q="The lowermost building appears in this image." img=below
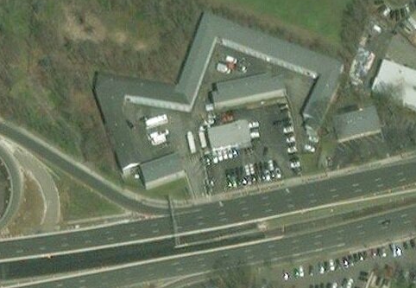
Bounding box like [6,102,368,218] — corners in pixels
[140,152,185,187]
